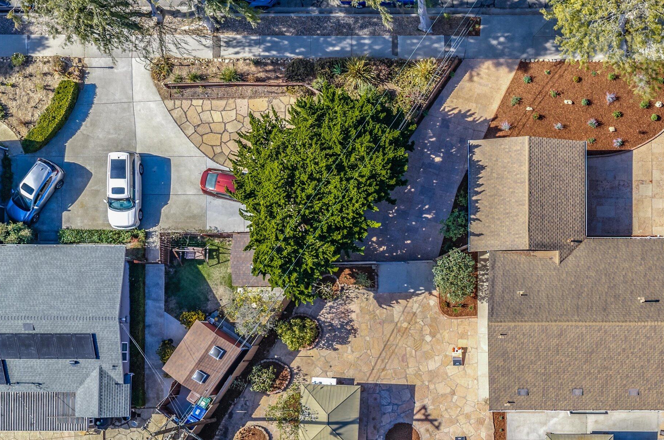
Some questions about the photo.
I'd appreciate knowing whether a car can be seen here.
Yes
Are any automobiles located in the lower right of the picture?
No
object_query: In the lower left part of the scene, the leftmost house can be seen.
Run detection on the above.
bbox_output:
[0,244,135,418]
